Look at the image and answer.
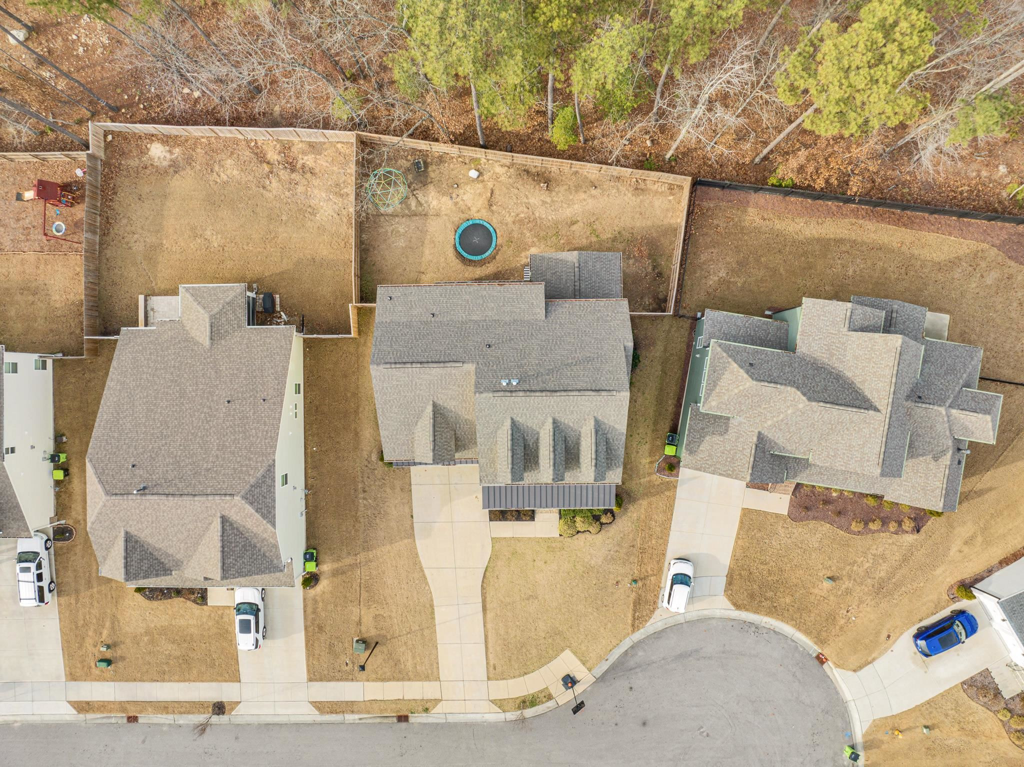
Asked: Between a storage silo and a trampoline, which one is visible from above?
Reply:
trampoline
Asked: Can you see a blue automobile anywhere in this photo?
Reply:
Yes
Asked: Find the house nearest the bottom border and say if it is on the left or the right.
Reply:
right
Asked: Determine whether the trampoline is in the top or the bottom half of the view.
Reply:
top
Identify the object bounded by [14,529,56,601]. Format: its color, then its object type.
white car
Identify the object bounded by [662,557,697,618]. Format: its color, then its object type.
white car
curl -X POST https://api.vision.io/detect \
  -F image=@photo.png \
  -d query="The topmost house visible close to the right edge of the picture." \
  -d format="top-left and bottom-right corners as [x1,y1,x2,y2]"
[675,296,1005,512]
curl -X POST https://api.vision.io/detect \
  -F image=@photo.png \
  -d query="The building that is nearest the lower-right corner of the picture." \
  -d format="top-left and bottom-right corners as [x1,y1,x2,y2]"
[976,556,1024,661]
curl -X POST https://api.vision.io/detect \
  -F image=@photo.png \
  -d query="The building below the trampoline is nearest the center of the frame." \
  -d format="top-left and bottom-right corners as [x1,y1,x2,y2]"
[370,249,632,511]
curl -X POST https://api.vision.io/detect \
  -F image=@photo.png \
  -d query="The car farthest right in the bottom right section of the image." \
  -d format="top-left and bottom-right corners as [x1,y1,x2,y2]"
[914,611,983,660]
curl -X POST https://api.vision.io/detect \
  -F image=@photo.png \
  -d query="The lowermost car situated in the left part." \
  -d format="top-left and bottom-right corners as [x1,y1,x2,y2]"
[232,588,266,649]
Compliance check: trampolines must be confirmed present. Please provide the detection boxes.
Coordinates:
[455,219,497,260]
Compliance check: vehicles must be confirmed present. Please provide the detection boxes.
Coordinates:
[232,588,266,649]
[662,557,697,618]
[914,611,983,660]
[14,529,56,601]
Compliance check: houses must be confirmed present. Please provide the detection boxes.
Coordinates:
[675,296,1005,512]
[85,283,313,588]
[370,249,632,511]
[976,556,1024,661]
[0,344,64,538]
